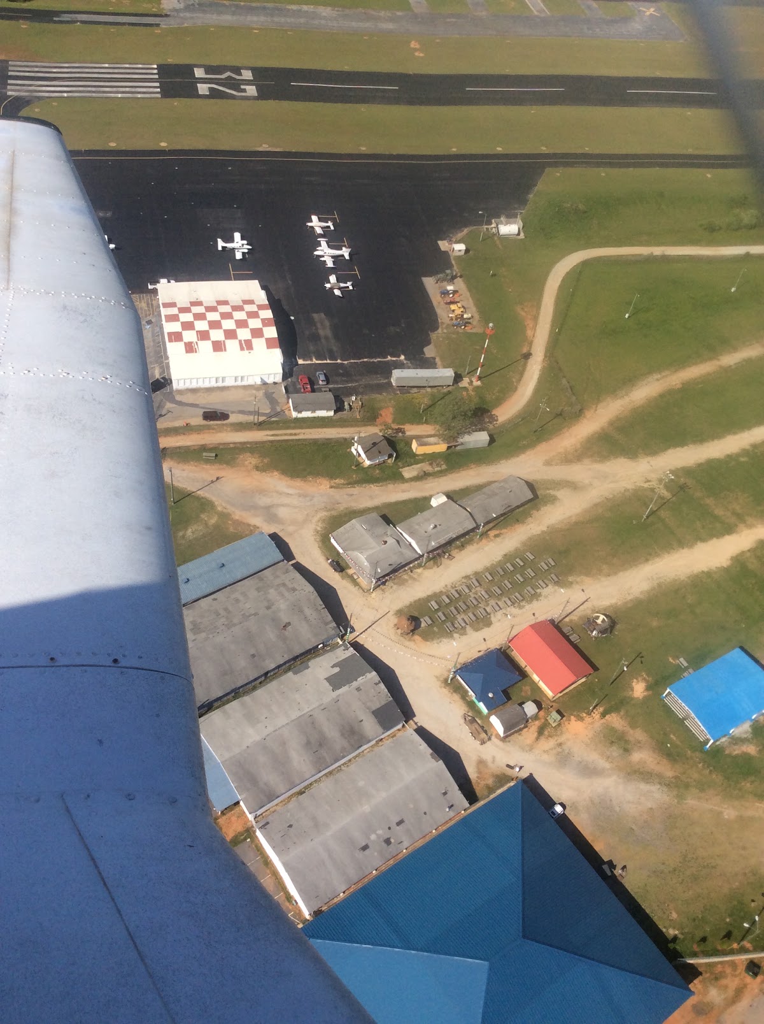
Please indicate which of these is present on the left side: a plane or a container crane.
plane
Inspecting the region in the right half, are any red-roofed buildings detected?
Yes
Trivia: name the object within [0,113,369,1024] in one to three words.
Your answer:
airplane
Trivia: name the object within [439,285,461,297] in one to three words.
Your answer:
vehicle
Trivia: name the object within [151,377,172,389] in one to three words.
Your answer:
vehicle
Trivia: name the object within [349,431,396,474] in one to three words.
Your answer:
building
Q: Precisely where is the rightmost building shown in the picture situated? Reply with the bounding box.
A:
[656,647,764,754]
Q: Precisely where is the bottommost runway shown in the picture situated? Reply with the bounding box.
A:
[0,60,764,111]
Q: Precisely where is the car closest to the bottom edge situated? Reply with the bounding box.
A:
[546,801,567,819]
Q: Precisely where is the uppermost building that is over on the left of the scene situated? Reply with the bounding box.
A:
[162,278,285,388]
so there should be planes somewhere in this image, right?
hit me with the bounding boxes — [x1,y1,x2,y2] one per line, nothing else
[0,113,369,1024]
[314,240,352,267]
[324,274,353,297]
[215,233,252,259]
[306,216,335,235]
